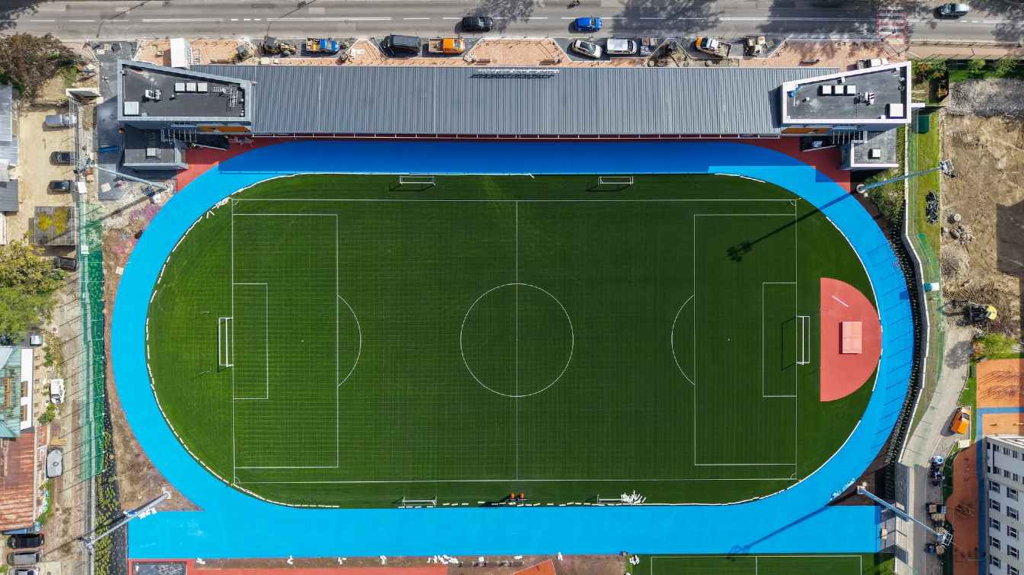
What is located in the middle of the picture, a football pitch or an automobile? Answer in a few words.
football pitch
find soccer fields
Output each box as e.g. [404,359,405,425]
[144,173,882,507]
[629,553,896,575]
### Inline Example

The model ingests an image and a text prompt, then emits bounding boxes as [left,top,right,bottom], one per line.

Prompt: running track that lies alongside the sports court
[112,136,914,575]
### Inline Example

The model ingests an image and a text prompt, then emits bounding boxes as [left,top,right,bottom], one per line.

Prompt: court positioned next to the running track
[945,358,1024,575]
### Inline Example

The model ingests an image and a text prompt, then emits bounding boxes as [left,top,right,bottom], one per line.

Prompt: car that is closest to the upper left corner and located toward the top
[44,113,78,128]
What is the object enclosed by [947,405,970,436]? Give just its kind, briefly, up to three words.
vehicle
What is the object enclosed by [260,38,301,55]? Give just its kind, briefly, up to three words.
work vehicle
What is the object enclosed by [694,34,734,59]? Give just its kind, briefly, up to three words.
truck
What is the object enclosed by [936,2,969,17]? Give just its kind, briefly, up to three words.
car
